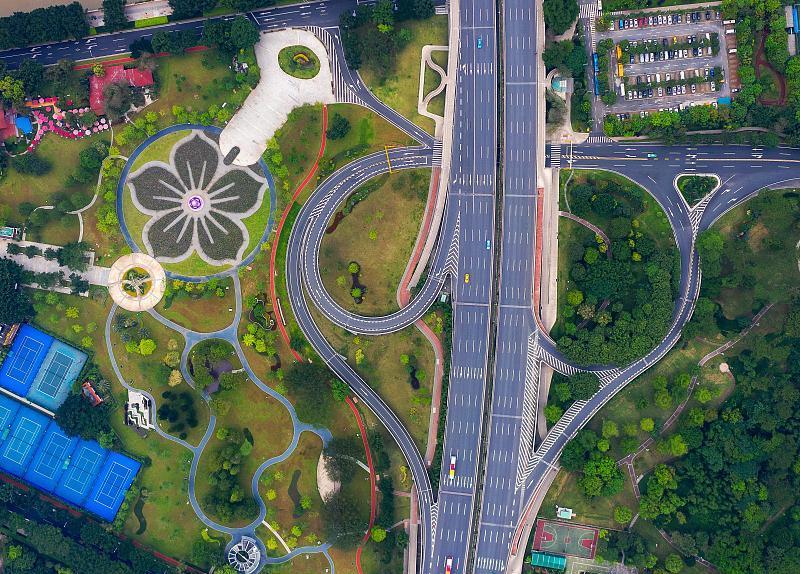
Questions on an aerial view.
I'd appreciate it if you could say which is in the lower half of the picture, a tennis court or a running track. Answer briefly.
tennis court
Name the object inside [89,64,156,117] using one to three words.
building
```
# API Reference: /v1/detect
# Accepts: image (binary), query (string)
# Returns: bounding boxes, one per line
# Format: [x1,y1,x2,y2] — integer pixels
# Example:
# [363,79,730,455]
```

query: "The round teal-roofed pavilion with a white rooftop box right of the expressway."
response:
[548,76,571,92]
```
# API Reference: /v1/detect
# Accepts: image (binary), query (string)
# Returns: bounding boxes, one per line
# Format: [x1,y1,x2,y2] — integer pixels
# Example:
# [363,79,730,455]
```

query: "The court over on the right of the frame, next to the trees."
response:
[533,520,599,559]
